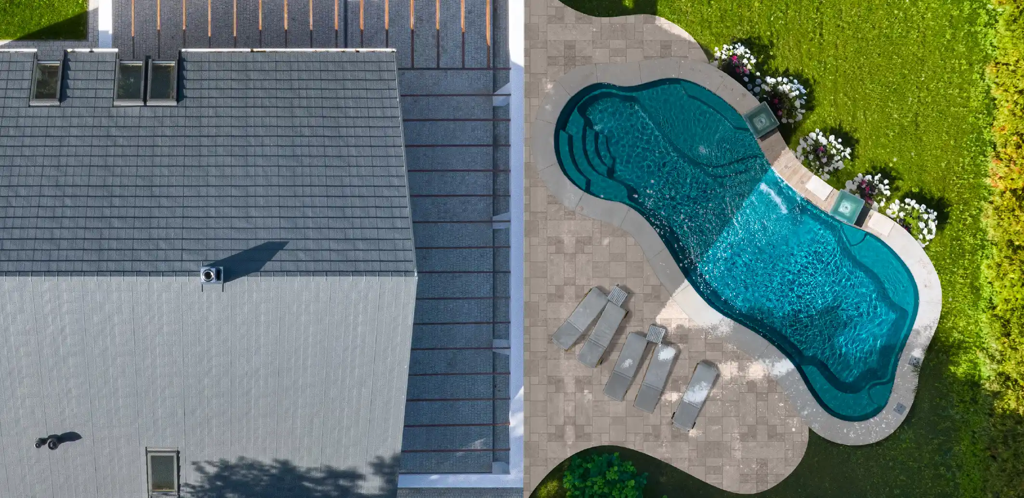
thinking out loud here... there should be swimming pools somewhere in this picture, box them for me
[533,57,942,446]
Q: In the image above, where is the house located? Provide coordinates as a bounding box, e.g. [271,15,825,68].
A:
[0,47,420,498]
